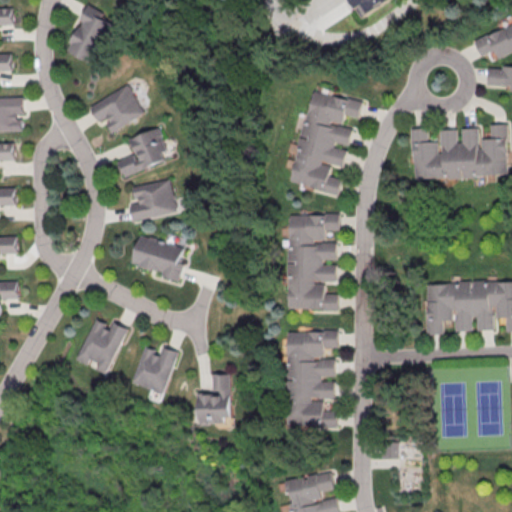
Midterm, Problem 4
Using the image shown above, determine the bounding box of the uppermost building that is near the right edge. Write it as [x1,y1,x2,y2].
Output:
[474,20,512,60]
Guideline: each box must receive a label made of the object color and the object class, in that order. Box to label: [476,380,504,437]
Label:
blue tennis court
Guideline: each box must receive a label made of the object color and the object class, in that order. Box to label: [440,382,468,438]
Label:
blue tennis court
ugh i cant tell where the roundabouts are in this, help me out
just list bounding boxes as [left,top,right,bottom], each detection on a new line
[409,47,476,114]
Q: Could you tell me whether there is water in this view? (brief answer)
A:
No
